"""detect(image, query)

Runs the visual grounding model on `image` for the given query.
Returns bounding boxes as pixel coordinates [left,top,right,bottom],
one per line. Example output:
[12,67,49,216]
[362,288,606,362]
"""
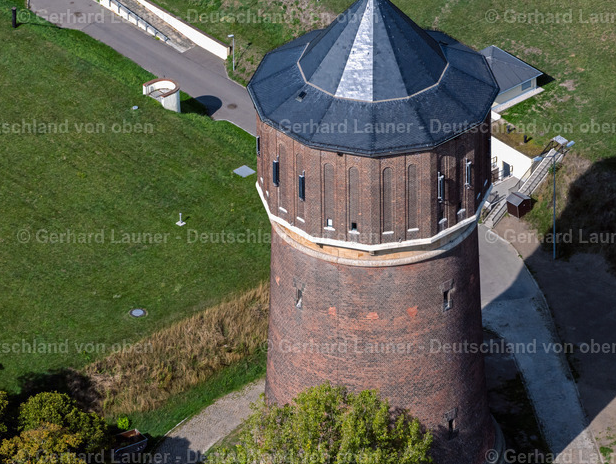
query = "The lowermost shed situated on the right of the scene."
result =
[507,190,531,217]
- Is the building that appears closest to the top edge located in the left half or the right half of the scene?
right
